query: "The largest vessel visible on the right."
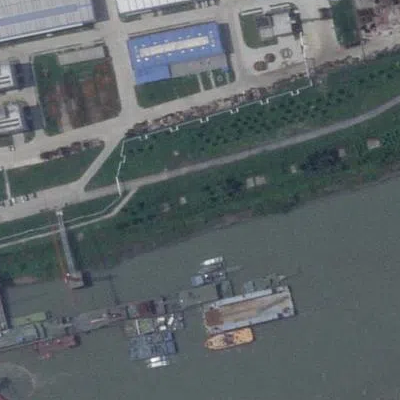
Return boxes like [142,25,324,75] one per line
[203,286,295,333]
